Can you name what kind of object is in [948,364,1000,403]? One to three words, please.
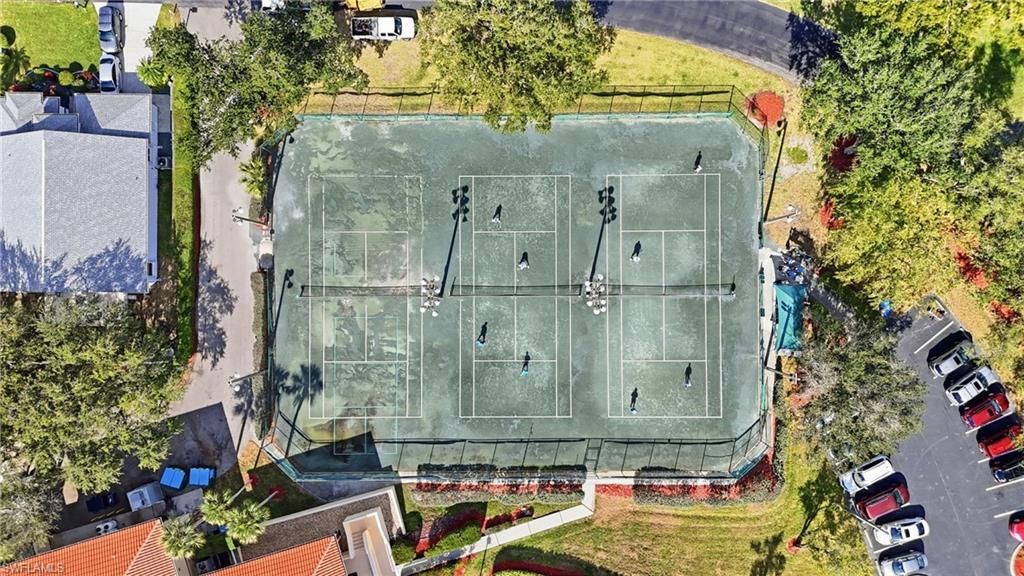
car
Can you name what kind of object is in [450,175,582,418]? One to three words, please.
tennis court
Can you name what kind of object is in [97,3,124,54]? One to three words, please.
car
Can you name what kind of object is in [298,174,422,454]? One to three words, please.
tennis court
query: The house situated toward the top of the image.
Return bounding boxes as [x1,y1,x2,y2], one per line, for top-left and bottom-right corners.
[0,92,161,292]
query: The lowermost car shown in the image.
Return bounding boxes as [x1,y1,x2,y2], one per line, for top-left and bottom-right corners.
[877,547,930,576]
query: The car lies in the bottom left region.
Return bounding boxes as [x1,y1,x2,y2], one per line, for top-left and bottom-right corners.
[77,488,125,517]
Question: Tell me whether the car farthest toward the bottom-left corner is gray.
No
